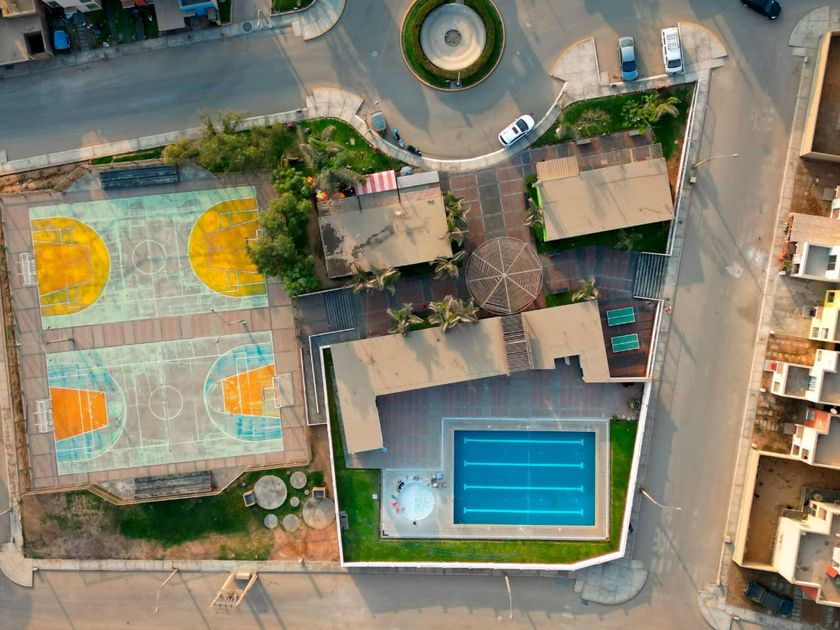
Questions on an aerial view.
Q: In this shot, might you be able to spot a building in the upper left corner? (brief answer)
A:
Yes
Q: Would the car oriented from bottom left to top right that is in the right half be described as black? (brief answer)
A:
No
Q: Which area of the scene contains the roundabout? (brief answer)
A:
top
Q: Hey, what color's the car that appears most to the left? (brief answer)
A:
blue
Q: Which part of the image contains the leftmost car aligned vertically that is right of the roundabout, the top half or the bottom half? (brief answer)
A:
top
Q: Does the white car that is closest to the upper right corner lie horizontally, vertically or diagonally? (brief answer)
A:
vertically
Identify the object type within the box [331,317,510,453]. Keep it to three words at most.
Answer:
building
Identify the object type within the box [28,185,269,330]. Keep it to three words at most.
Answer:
sports court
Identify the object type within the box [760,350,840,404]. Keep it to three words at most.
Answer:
house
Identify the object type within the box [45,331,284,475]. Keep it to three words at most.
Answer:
sports court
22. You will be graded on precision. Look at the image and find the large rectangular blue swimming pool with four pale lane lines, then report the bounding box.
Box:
[441,418,610,540]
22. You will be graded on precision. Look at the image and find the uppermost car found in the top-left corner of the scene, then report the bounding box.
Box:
[54,28,74,58]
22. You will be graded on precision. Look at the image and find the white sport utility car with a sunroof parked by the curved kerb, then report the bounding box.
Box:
[496,112,536,148]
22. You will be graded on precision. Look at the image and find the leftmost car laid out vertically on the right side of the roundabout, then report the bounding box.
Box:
[618,37,640,82]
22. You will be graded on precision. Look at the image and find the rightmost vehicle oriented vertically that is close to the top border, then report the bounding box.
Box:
[660,25,684,76]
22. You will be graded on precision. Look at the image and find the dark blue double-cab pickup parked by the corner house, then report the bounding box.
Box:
[743,580,797,614]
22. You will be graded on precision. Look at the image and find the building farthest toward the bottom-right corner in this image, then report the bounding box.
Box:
[775,502,840,607]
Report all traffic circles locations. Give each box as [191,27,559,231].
[400,0,505,92]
